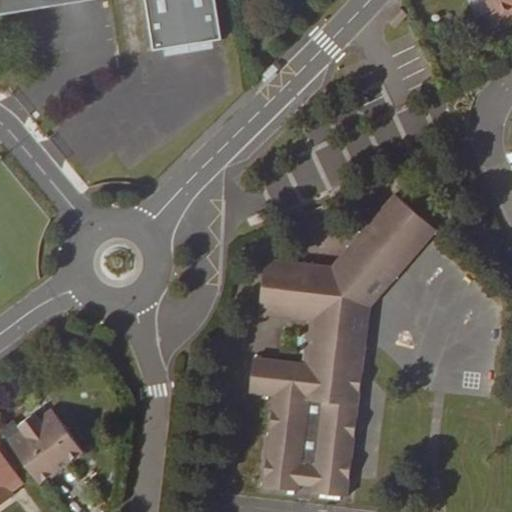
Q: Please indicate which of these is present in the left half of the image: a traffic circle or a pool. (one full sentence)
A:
There is a traffic circle in the left half of the image.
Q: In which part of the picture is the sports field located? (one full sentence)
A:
The sports field is in the left part of the image.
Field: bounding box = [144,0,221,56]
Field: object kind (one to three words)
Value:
building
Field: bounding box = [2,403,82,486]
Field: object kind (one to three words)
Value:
house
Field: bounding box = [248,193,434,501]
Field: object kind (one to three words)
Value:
building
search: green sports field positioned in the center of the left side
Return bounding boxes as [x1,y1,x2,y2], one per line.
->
[0,160,49,306]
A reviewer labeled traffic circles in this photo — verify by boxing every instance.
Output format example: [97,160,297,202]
[66,206,172,316]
